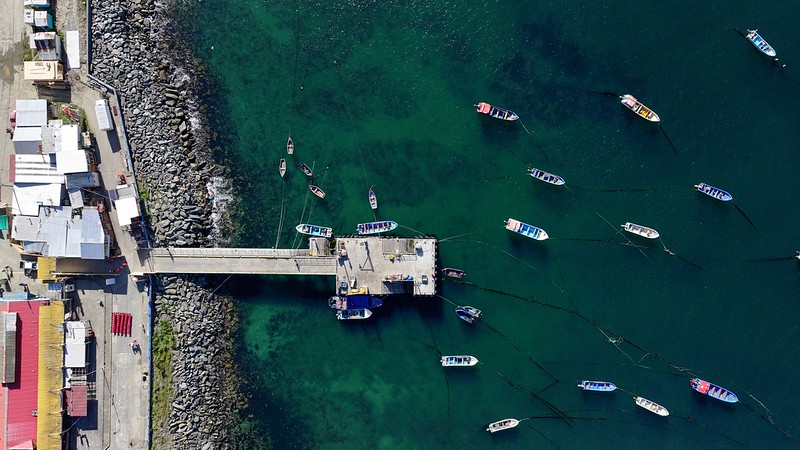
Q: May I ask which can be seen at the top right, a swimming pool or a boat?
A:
boat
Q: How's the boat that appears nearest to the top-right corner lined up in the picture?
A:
diagonally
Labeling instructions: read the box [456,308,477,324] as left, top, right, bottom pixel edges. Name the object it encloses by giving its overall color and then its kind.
blue boat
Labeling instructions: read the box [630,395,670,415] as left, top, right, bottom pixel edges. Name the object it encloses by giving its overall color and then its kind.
white boat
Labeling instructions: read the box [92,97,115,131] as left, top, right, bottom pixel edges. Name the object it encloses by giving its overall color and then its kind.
white truck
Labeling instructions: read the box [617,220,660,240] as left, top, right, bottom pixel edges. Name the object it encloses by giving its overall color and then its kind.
white boat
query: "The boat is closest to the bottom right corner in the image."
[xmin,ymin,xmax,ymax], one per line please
[686,376,739,403]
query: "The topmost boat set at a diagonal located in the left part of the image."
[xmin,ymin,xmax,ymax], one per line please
[301,163,314,177]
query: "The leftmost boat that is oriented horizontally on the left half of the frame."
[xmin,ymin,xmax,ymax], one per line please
[295,223,334,238]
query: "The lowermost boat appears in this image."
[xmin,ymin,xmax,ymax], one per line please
[483,418,520,434]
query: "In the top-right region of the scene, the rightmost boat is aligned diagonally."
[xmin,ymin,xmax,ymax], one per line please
[745,30,777,56]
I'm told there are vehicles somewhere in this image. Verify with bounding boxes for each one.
[92,97,115,131]
[5,106,16,126]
